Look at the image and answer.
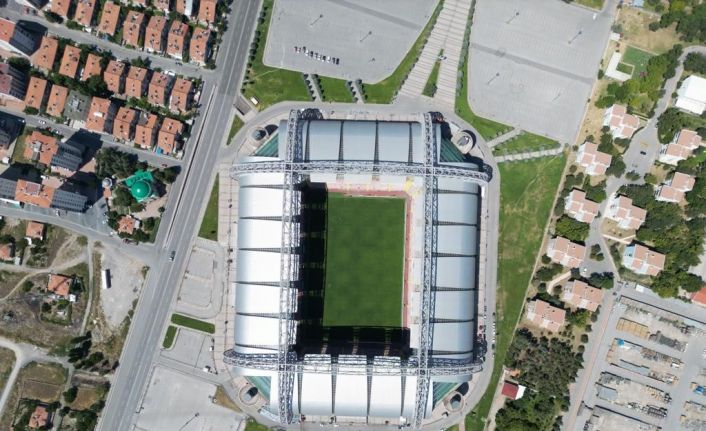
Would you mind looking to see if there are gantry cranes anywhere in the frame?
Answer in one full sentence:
No, the picture doesn't show any gantry crane.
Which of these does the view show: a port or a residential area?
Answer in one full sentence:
The area seen from above is a residential area.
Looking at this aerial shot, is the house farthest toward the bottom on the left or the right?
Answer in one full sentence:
The house farthest toward the bottom appears in the left half of the scene.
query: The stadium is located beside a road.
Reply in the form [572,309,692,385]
[223,108,490,429]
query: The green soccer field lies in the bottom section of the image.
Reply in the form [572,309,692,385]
[302,188,411,348]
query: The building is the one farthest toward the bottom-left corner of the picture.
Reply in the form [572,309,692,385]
[28,403,54,429]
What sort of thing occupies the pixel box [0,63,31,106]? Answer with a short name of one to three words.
building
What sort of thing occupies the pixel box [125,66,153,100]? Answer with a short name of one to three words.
house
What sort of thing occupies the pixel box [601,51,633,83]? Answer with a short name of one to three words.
building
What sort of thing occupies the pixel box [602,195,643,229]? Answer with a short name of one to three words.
house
